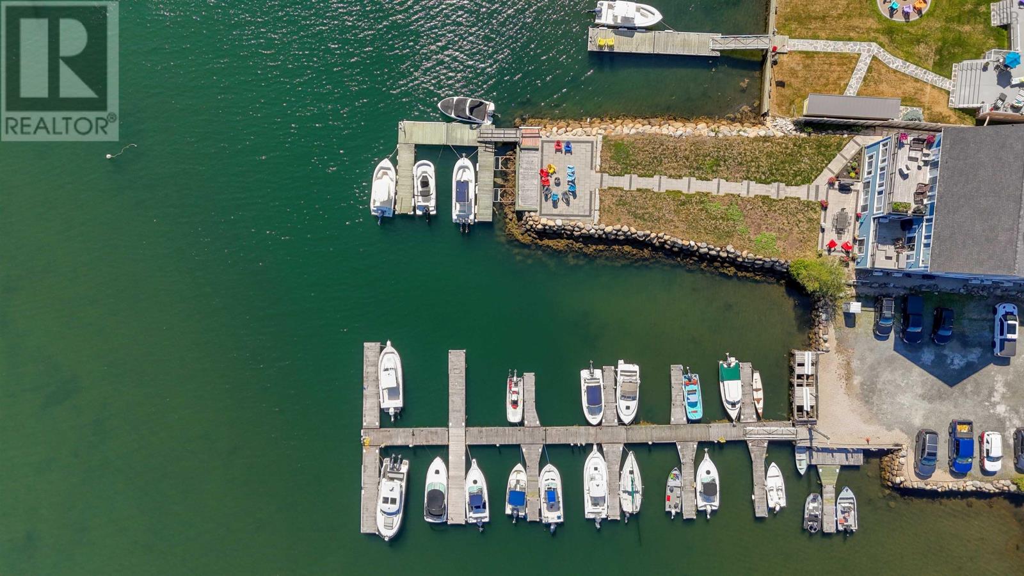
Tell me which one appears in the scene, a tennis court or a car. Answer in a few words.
car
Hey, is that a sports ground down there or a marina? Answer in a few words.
marina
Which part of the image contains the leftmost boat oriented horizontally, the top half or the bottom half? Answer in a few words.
top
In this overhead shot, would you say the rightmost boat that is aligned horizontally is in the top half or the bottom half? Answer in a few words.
top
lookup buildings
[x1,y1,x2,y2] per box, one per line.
[802,93,900,121]
[854,123,1024,280]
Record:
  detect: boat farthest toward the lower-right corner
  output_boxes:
[837,487,857,537]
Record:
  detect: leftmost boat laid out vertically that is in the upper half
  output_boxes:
[370,148,399,228]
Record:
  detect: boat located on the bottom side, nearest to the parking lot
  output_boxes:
[795,447,808,475]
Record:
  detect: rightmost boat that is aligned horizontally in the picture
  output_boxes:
[581,0,675,31]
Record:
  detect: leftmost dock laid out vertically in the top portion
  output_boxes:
[395,144,416,215]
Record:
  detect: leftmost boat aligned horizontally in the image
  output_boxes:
[438,98,505,125]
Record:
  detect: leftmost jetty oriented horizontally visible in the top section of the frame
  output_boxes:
[398,121,495,146]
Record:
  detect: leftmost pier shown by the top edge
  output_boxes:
[588,26,722,57]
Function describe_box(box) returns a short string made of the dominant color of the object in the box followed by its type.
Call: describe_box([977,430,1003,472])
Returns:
white car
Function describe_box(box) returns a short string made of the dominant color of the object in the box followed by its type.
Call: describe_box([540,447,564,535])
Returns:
white boat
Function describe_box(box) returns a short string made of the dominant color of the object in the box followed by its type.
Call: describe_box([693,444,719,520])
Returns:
white boat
